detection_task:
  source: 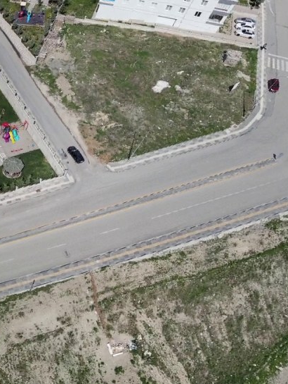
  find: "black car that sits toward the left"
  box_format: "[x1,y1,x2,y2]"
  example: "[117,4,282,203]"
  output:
[65,144,86,160]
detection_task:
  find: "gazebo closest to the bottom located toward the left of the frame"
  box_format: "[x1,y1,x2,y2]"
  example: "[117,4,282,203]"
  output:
[3,156,23,175]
